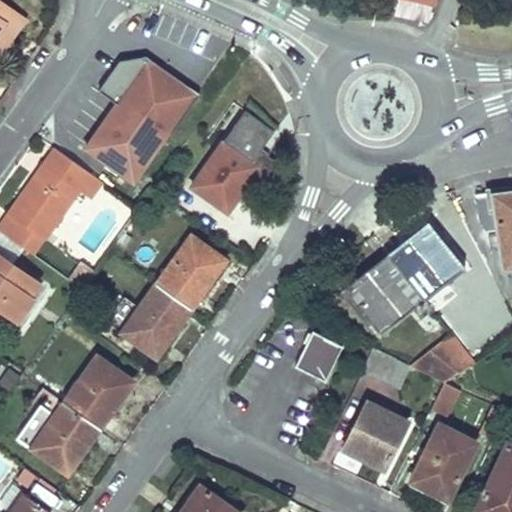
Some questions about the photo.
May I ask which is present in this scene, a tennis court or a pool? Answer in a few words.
pool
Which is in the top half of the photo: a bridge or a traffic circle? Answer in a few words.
traffic circle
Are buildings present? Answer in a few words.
Yes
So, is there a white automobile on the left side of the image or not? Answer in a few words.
Yes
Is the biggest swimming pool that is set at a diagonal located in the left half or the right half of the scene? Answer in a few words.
left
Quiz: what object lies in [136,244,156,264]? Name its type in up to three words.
swimming pool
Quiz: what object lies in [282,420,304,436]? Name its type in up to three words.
car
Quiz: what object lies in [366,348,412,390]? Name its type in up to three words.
building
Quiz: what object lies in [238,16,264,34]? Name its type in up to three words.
vehicle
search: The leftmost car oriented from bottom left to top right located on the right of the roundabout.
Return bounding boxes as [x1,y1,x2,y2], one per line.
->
[442,119,463,136]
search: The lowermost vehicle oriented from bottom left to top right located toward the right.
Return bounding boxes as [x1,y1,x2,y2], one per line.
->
[334,421,350,442]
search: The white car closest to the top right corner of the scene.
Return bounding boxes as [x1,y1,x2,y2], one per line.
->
[416,54,438,66]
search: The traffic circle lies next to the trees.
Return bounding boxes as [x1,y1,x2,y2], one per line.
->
[337,63,422,148]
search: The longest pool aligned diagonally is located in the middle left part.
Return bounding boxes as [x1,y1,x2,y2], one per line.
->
[77,207,118,254]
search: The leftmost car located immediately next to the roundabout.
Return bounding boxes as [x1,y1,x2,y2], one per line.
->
[350,54,372,68]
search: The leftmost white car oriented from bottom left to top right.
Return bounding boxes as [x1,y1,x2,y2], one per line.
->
[31,48,50,68]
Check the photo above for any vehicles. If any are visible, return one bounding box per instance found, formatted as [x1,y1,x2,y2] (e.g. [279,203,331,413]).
[259,288,276,309]
[142,12,159,34]
[253,352,276,370]
[266,32,287,49]
[448,191,464,218]
[286,46,306,64]
[442,119,463,136]
[416,54,438,66]
[178,188,196,206]
[350,54,372,68]
[288,408,308,424]
[278,432,300,448]
[230,392,250,410]
[94,48,114,69]
[238,16,264,34]
[334,421,350,442]
[108,470,126,491]
[462,130,488,150]
[284,322,296,344]
[31,48,50,68]
[282,420,304,436]
[197,212,218,230]
[264,342,284,359]
[94,490,113,510]
[272,478,296,496]
[344,398,358,420]
[124,14,142,34]
[292,396,314,411]
[194,30,209,53]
